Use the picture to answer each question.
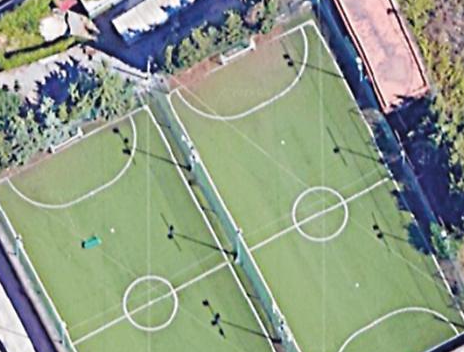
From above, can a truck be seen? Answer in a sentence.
No, there appears to be no truck in this shot.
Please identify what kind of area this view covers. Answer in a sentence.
This image shows a sports ground.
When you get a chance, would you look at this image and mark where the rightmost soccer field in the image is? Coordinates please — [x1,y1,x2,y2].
[149,17,464,352]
